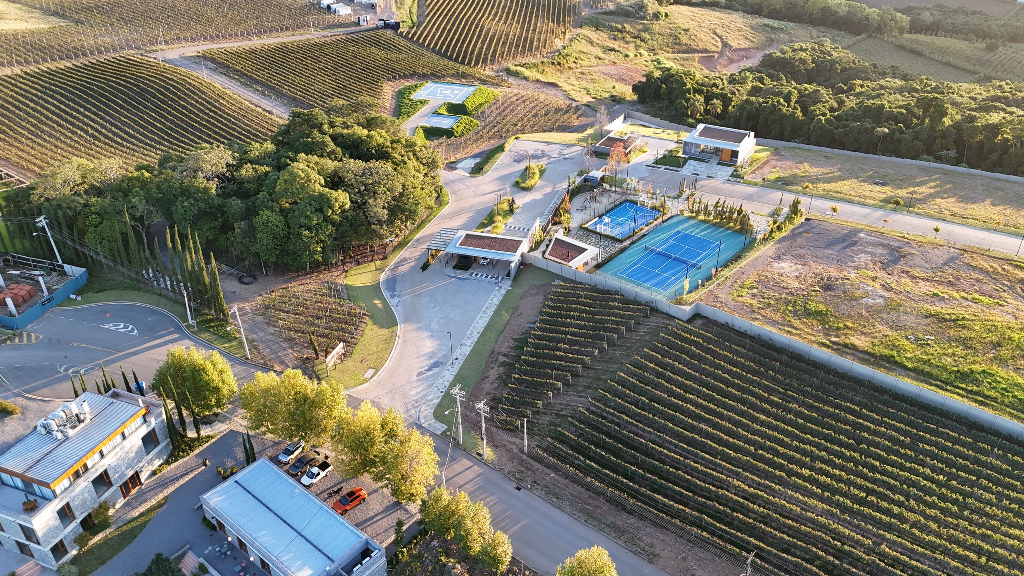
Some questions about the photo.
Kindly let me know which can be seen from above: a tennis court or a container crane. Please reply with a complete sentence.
The image shows a tennis court.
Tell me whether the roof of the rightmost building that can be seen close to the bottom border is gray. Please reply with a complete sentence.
No, the roof of the rightmost building that can be seen close to the bottom border is blue.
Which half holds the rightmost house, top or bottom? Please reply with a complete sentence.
It is in the top half that the rightmost house appears.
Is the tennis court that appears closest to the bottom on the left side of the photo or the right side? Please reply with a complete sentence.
The tennis court that appears closest to the bottom is on the right side of the image.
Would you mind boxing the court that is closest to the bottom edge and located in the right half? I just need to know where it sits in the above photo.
[619,230,722,291]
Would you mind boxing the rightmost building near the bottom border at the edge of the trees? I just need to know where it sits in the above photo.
[199,456,387,576]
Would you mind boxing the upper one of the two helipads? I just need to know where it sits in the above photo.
[401,79,500,116]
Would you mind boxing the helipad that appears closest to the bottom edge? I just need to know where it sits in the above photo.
[421,113,479,141]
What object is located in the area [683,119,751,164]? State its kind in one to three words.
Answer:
house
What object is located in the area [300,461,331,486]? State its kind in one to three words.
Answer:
truck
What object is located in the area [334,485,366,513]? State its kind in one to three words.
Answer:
car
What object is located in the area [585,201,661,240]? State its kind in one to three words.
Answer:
basketball court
